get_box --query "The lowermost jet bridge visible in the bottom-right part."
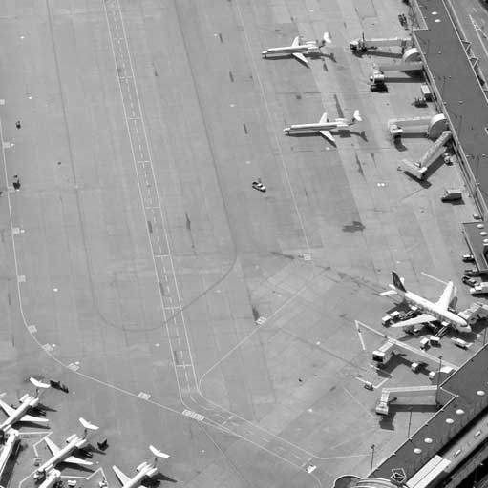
[374,384,441,417]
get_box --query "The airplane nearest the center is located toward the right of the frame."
[285,107,362,140]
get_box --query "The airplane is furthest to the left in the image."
[0,377,55,437]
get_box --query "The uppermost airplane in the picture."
[263,31,335,62]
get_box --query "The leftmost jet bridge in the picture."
[0,426,19,486]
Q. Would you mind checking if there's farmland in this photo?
No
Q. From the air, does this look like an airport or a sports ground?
airport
